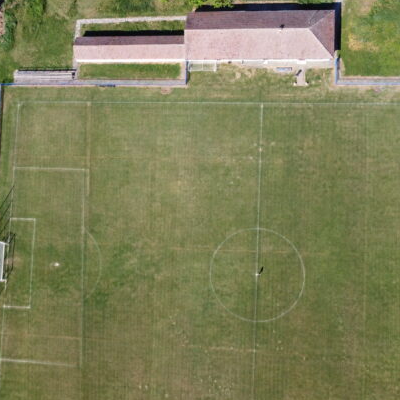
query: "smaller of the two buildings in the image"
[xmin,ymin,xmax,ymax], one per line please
[73,35,186,65]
